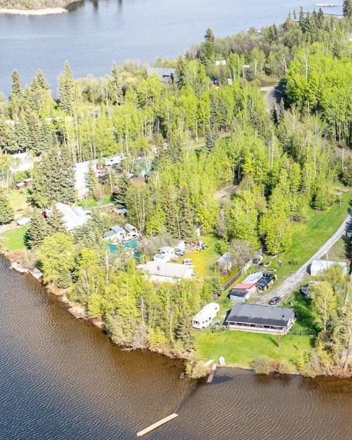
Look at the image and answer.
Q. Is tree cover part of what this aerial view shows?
Yes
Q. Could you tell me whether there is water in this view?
Yes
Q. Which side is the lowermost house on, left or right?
right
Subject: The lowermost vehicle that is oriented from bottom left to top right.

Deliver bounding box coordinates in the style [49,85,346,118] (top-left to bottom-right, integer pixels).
[193,303,217,330]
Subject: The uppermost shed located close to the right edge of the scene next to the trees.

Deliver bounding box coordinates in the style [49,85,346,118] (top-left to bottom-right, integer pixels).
[312,259,351,278]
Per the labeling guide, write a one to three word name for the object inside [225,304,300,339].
house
